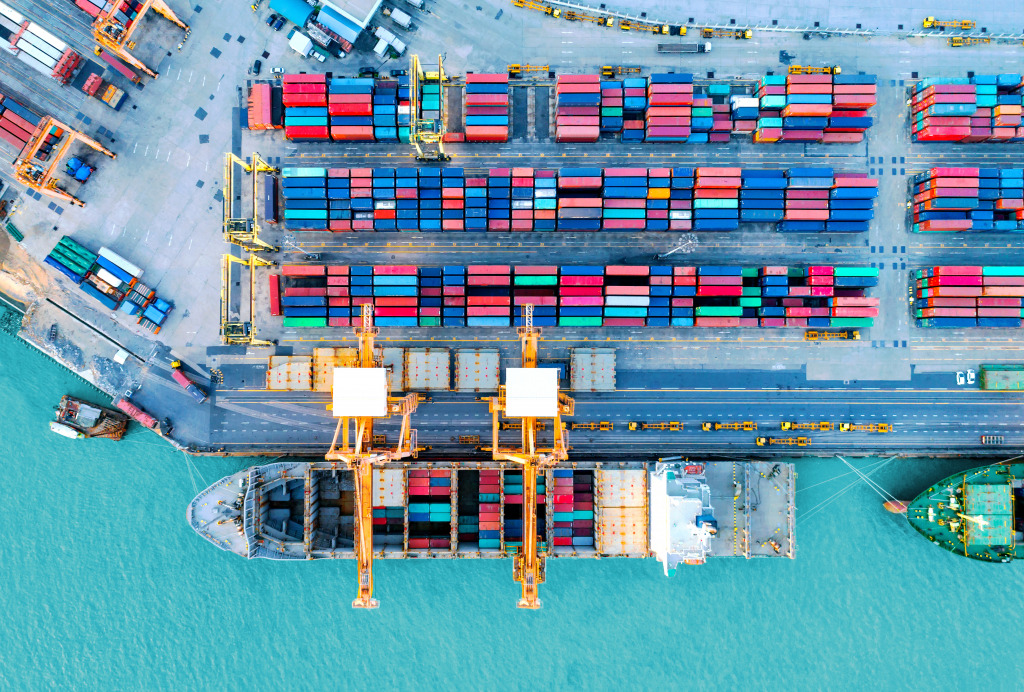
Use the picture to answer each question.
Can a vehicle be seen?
Yes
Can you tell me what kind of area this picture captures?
port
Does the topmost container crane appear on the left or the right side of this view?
left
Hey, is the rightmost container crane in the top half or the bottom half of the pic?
bottom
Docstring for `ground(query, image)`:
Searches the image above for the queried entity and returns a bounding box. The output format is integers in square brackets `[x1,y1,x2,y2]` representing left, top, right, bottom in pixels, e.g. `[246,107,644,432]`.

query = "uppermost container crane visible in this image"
[88,0,194,79]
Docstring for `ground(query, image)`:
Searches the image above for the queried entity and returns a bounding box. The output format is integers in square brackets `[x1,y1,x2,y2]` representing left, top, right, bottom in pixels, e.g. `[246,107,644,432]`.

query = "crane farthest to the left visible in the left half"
[6,115,121,209]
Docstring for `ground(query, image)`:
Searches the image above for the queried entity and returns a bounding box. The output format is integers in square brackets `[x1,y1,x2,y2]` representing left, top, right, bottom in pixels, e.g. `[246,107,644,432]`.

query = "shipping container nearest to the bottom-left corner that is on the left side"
[118,399,160,428]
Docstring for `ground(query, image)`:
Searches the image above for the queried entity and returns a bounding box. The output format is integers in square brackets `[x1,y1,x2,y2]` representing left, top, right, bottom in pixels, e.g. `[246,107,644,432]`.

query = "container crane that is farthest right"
[481,303,584,607]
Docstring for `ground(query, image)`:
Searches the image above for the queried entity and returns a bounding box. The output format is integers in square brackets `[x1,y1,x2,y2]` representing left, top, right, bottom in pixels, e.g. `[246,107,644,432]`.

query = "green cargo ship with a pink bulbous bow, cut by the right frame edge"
[884,458,1024,564]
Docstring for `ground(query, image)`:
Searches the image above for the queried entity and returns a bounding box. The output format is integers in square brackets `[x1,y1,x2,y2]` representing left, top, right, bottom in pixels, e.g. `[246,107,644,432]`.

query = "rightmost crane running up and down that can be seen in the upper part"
[406,51,453,160]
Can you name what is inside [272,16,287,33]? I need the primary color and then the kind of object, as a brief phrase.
blue car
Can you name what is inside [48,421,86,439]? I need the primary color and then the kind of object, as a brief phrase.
white boat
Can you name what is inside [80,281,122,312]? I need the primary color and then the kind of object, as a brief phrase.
blue shipping container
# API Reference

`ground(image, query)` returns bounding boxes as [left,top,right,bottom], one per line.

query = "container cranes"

[481,303,584,607]
[6,115,121,209]
[222,151,283,252]
[326,303,434,607]
[88,0,194,79]
[220,256,280,344]
[406,51,453,160]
